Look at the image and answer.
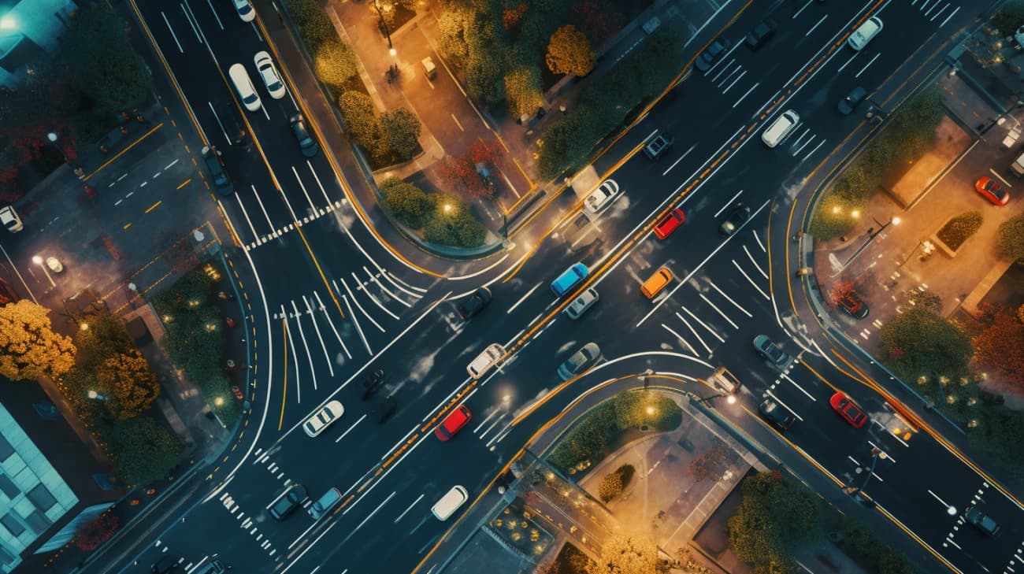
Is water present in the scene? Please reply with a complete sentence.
No, there's no water in this view.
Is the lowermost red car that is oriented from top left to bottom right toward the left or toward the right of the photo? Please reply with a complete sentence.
The lowermost red car that is oriented from top left to bottom right is on the right side of the image.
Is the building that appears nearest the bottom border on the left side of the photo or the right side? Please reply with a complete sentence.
The building that appears nearest the bottom border sits on the left side.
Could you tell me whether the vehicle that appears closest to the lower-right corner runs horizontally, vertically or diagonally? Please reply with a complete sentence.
The vehicle that appears closest to the lower-right corner is laid out diagonally.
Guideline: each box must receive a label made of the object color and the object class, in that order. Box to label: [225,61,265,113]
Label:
white car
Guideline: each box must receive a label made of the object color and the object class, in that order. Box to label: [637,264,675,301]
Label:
orange car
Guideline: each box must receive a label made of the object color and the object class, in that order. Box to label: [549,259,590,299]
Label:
blue car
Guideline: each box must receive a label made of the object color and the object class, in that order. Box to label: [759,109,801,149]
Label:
white car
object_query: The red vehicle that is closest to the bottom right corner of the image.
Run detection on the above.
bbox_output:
[825,389,870,429]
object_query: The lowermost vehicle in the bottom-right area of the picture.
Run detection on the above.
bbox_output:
[960,504,1001,538]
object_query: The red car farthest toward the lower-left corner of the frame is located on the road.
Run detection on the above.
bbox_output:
[432,402,475,443]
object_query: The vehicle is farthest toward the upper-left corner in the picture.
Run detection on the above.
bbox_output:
[0,201,27,237]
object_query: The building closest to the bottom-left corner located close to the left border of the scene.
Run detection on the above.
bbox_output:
[0,373,97,574]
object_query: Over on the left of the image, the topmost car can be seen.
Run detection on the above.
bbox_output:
[229,0,257,25]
